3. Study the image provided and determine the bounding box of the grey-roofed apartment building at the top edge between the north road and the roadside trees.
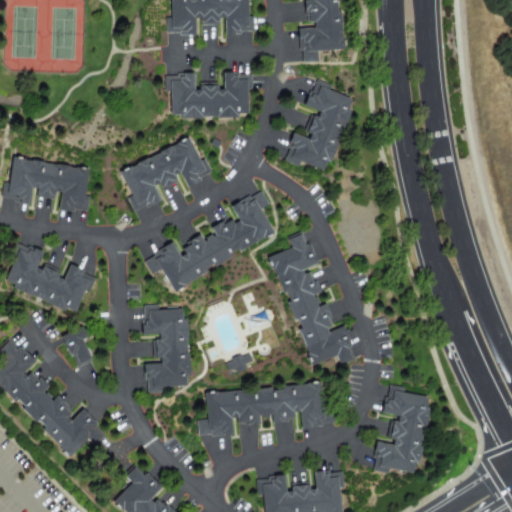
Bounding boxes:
[300,0,344,58]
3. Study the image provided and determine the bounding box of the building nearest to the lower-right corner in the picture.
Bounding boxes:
[376,385,428,473]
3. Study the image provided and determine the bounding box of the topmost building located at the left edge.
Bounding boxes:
[0,158,88,210]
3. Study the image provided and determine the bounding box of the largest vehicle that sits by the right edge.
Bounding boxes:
[497,364,510,383]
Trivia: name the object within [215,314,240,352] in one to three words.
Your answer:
swimming pool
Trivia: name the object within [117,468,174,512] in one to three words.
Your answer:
building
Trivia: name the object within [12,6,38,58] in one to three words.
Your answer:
tennis court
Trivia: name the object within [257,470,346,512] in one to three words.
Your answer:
building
